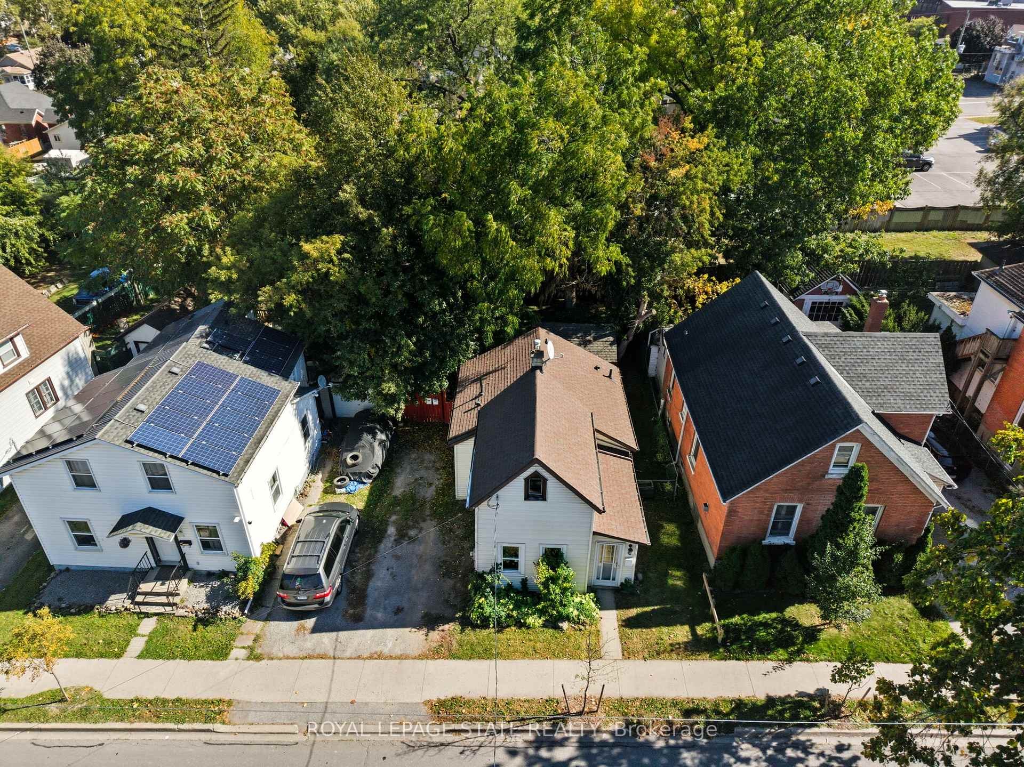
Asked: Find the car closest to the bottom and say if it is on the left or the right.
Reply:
left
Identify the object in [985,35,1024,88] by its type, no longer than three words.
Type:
house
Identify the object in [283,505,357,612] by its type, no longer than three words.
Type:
car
